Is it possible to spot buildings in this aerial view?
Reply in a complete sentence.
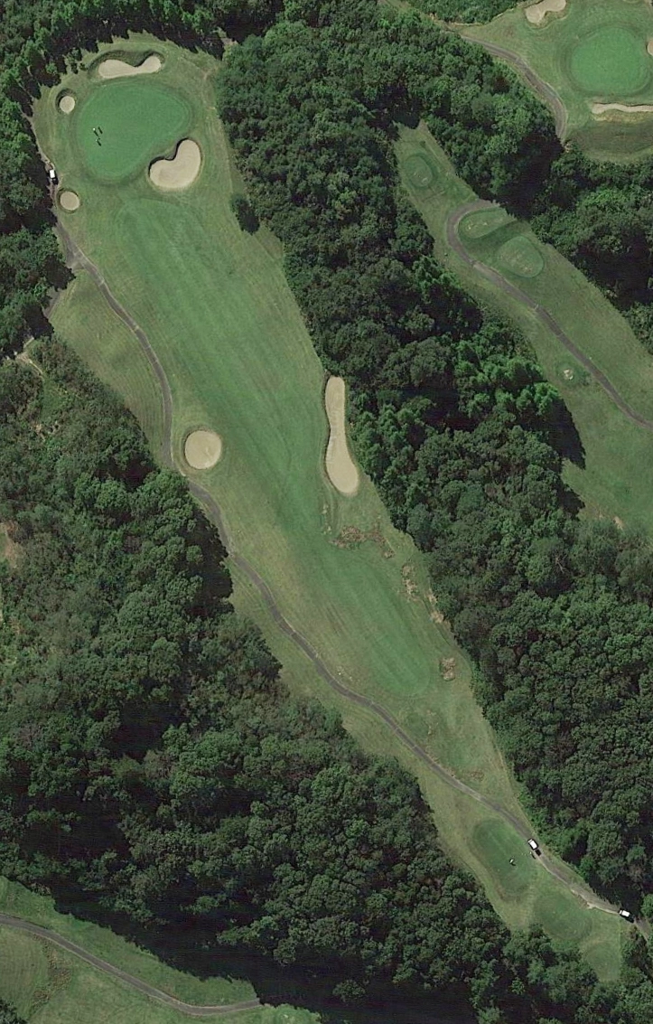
No, there isn't any building down there.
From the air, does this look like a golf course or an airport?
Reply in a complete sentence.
What you see here is a golf course.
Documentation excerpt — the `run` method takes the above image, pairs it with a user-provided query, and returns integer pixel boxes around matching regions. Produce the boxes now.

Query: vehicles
[529,839,538,850]
[50,170,56,180]
[620,909,631,917]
